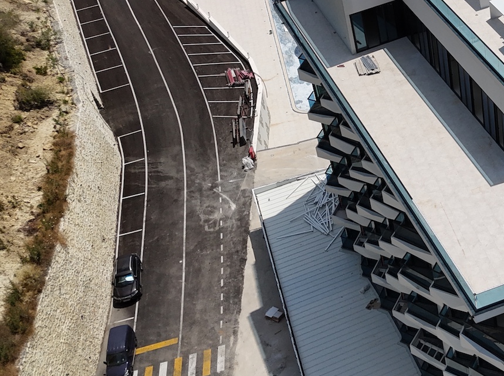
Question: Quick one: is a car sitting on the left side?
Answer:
Yes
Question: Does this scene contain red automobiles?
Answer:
No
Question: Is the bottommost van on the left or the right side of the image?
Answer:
left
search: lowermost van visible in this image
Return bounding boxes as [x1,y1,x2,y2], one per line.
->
[97,325,134,376]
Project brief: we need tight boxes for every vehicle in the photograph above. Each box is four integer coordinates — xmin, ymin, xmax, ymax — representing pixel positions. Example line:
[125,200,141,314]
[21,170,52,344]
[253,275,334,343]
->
[108,252,142,305]
[97,325,134,376]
